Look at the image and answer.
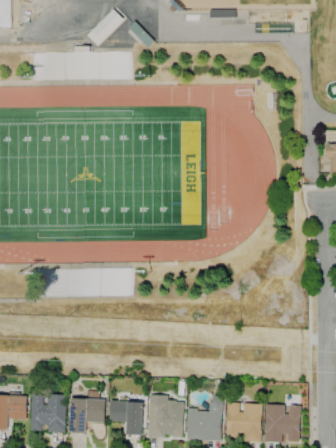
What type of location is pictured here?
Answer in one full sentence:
What you see here is a sports ground.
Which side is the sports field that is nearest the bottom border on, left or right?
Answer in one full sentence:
The sports field that is nearest the bottom border appears in the left half of the scene.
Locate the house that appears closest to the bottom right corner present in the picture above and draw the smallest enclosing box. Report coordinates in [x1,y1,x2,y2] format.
[266,405,302,442]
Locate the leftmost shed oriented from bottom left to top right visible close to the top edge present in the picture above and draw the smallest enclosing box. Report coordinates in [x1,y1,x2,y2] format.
[88,8,126,46]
